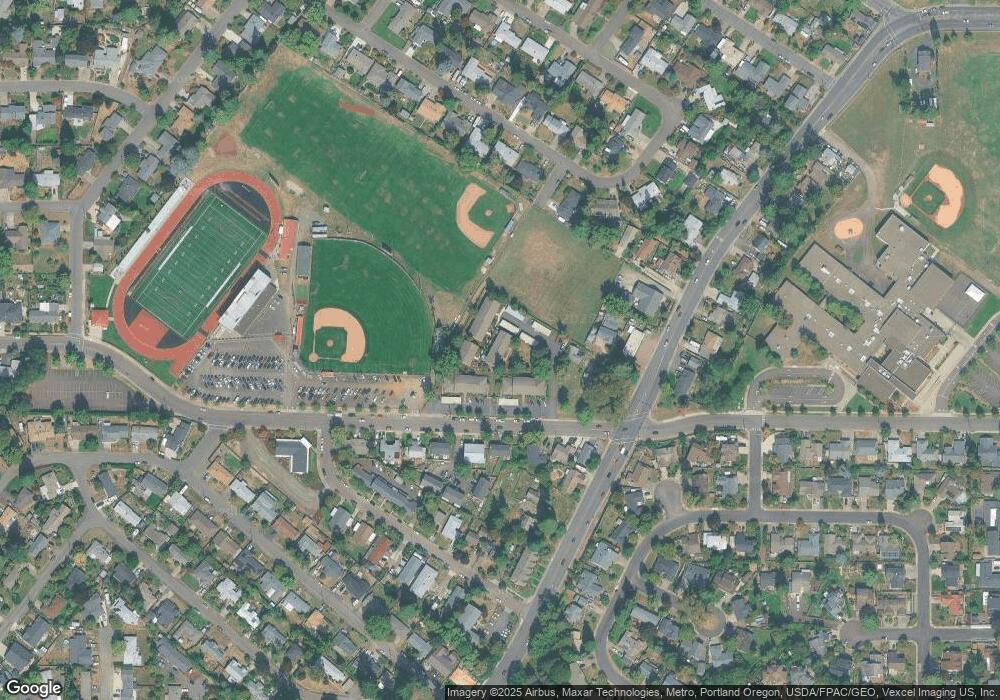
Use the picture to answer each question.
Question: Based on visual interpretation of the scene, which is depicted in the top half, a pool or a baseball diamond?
baseball diamond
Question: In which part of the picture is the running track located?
left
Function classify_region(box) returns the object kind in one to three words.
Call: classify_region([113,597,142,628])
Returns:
house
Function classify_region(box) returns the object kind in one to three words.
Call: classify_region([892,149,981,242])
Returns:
baseball field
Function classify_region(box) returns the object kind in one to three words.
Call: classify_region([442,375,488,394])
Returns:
building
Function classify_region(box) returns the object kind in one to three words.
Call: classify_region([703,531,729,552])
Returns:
house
